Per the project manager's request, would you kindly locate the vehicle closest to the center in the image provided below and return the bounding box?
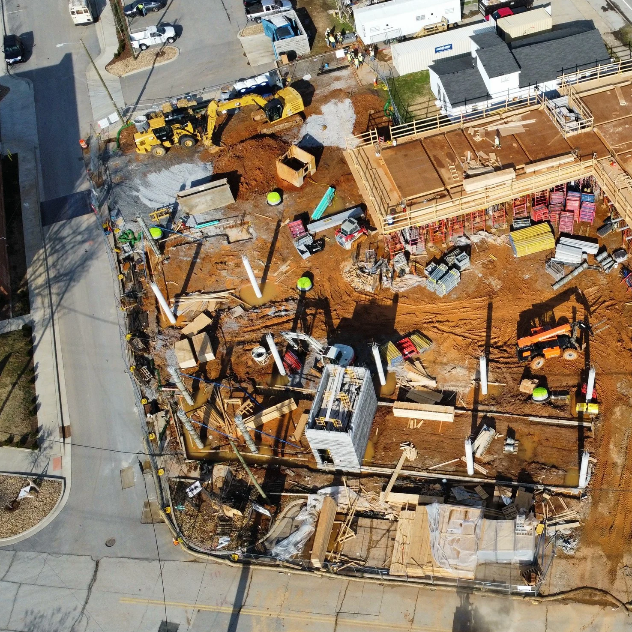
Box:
[278,331,363,369]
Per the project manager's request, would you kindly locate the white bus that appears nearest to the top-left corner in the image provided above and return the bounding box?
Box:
[65,0,94,27]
